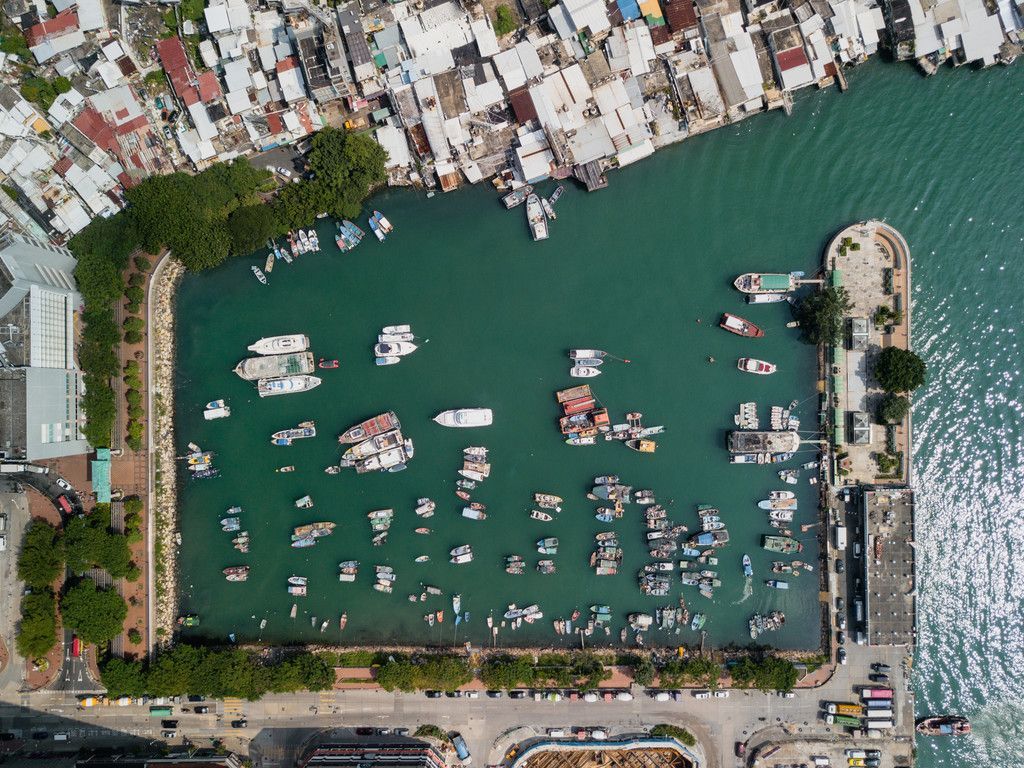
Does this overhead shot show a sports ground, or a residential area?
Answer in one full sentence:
This image shows a residential area.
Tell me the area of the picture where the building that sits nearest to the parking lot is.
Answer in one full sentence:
The building that sits nearest to the parking lot sits in the bottom right section of the image.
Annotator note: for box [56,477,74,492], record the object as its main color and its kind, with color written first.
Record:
white car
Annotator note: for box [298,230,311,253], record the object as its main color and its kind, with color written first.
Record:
white boat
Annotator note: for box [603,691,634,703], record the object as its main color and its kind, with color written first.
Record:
white vehicle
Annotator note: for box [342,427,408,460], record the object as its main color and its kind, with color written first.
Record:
white boat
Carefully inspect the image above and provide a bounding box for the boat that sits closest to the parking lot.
[917,716,972,734]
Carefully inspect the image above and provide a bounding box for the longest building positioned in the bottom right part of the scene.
[860,488,914,646]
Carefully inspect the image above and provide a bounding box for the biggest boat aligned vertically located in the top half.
[526,194,552,243]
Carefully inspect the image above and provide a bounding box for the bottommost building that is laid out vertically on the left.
[94,448,121,503]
